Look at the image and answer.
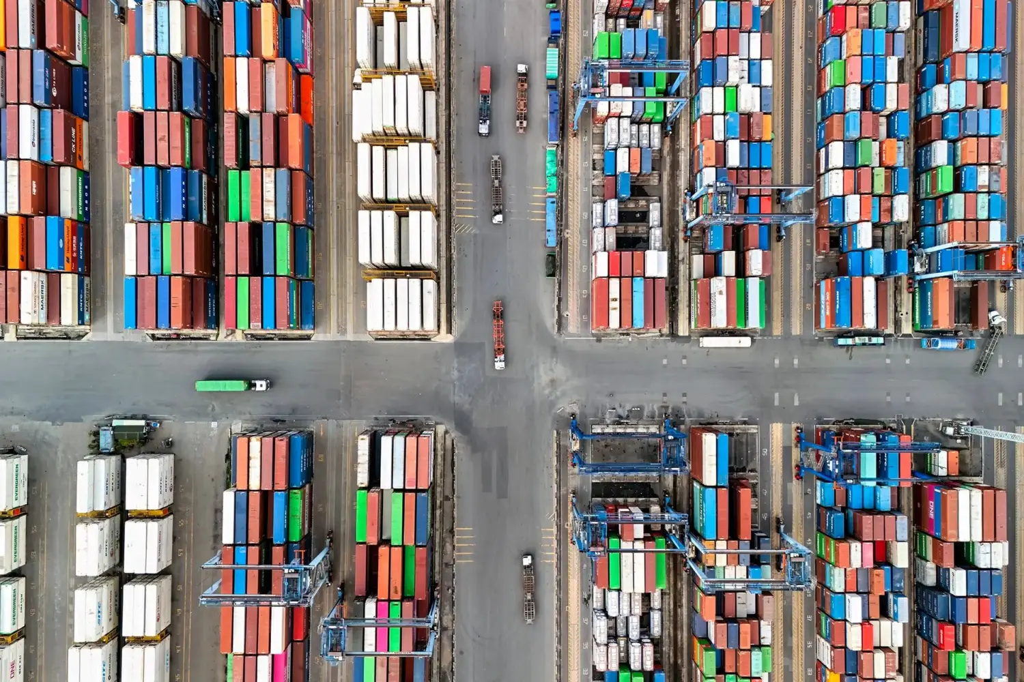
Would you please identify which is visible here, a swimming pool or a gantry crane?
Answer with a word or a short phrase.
gantry crane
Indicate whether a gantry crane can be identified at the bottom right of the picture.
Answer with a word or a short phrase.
Yes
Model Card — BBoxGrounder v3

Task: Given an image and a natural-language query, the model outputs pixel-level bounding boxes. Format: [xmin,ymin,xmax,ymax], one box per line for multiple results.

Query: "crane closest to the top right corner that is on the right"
[903,241,1024,293]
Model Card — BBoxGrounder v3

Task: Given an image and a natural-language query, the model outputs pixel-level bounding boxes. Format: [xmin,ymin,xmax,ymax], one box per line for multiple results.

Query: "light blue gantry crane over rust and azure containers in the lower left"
[203,529,334,607]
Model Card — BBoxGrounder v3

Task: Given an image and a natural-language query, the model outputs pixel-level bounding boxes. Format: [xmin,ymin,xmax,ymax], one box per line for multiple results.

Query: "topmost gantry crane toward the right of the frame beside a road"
[569,60,689,137]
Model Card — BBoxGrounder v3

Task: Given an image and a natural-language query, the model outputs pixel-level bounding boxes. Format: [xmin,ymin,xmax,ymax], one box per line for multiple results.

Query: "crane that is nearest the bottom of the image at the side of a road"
[319,577,444,660]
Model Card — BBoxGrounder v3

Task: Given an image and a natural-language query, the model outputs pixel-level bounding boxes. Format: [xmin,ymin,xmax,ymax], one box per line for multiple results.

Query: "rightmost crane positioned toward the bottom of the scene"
[934,418,1024,445]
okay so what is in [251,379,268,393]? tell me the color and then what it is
white vehicle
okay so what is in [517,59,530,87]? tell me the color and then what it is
white vehicle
